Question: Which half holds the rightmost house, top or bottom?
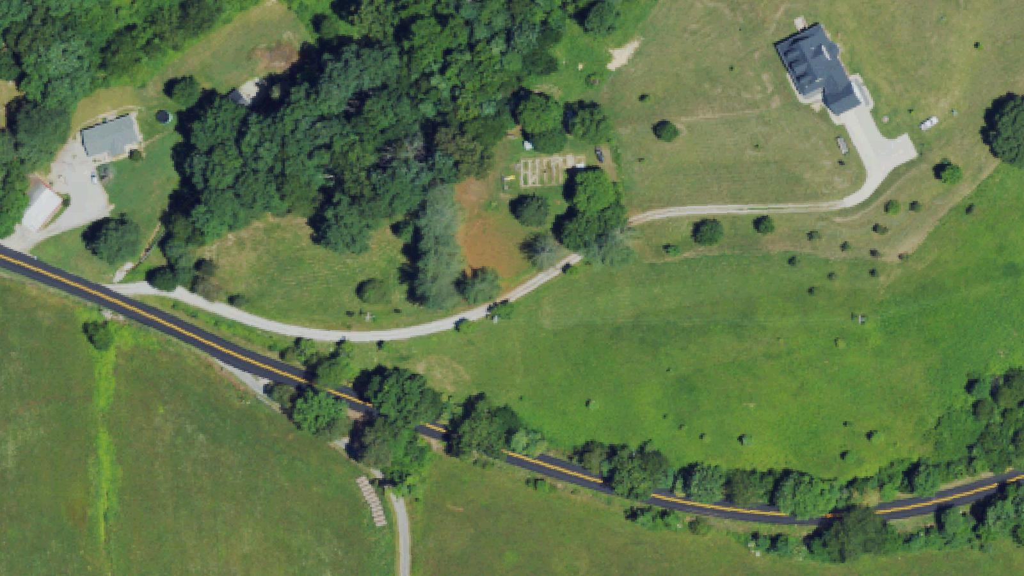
top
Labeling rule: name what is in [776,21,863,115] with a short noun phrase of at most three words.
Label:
house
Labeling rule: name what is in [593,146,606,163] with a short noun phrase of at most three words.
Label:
vehicle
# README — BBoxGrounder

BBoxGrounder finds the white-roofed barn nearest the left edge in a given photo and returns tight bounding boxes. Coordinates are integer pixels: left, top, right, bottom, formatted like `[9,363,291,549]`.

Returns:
[14,177,62,231]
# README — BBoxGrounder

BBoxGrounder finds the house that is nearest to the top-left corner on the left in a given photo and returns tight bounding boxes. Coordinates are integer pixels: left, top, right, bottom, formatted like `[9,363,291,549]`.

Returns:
[81,114,140,156]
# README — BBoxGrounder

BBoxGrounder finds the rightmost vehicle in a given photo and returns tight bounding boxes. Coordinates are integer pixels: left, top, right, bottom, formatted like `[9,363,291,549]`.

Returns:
[921,116,939,130]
